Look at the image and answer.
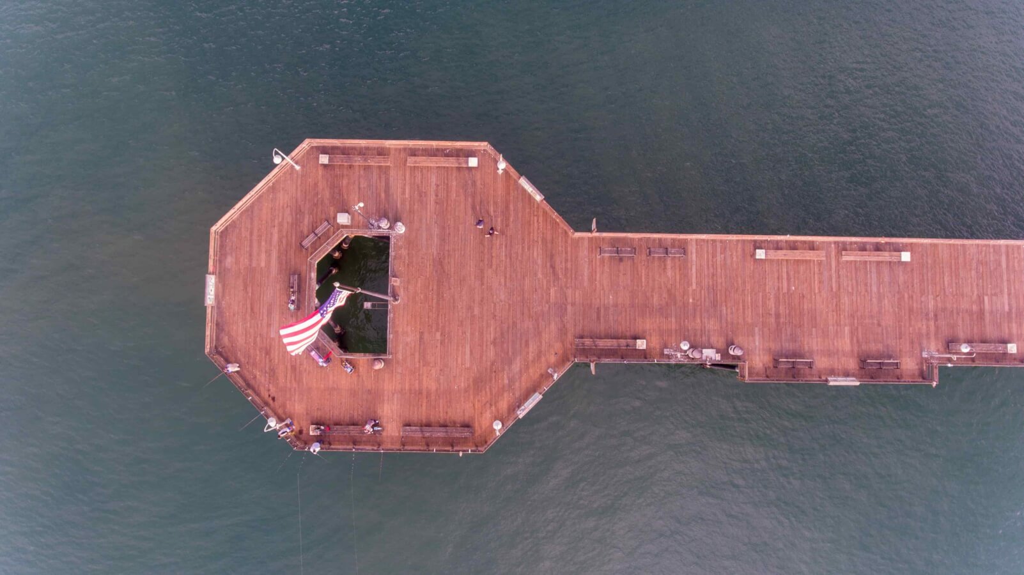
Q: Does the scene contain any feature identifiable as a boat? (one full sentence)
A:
No, there appears to be no boat in this shot.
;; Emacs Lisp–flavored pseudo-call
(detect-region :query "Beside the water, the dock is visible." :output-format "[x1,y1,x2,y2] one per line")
[205,139,1024,455]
